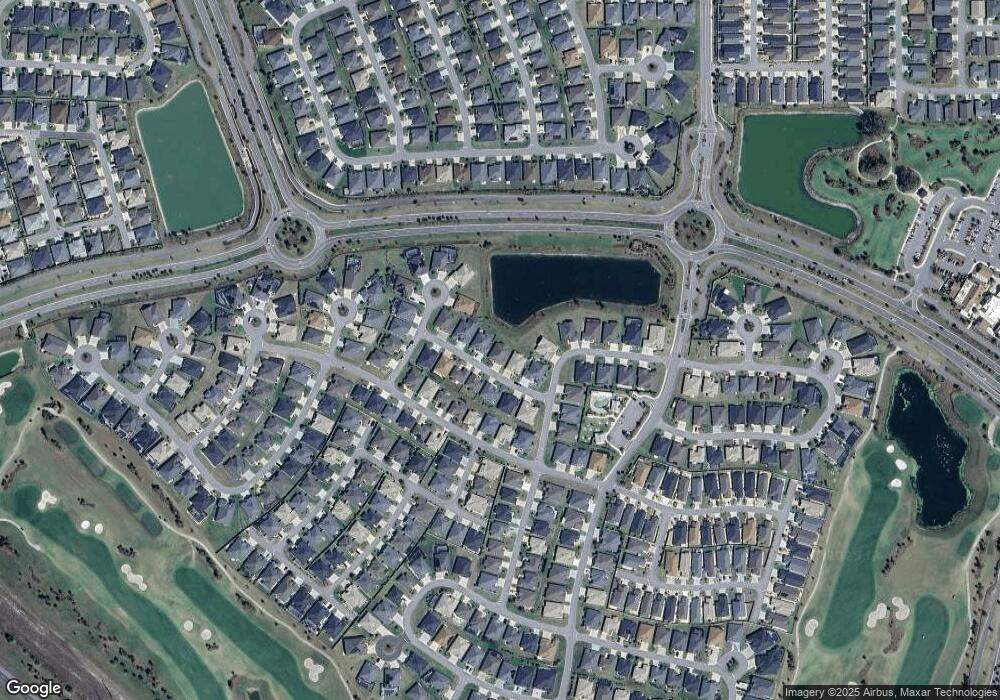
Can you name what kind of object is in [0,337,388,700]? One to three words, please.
golf course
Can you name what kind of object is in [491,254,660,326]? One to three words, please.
pond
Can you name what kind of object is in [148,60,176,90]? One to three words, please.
house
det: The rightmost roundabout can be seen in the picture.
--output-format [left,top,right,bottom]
[664,200,726,262]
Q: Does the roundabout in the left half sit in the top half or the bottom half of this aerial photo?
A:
top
